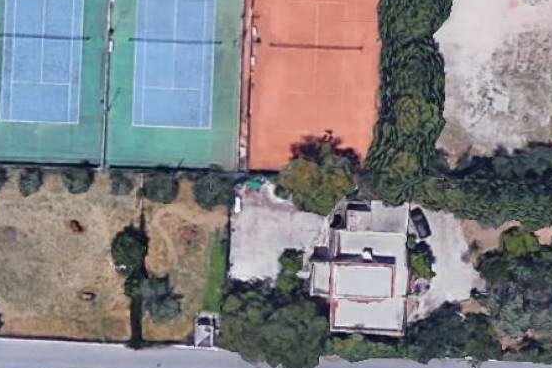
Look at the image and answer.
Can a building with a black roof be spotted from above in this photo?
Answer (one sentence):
No, the picture doesn't show any building with a black roof.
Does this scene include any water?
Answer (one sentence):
No, there is no water in the image.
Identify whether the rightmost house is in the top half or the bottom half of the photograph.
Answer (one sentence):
The rightmost house sits in the bottom half of the picture.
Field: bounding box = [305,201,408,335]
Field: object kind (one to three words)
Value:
house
